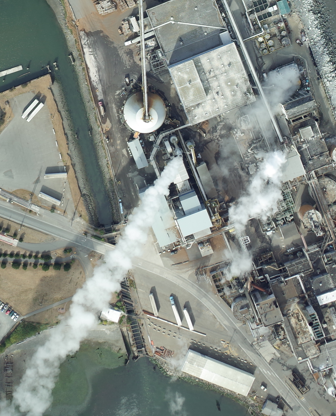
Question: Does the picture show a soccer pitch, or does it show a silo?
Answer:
silo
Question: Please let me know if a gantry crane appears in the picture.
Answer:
No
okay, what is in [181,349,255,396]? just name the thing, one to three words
building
